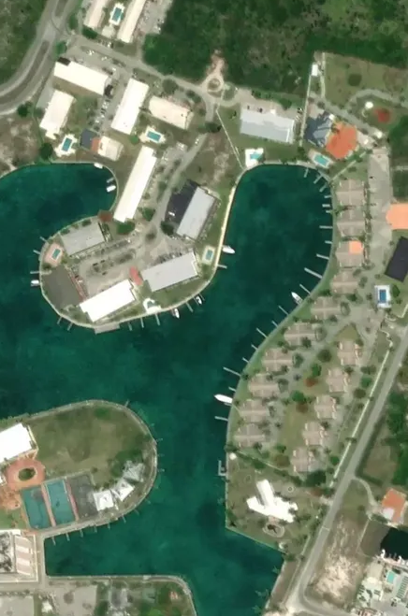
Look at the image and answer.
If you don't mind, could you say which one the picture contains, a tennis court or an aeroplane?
tennis court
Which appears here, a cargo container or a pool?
pool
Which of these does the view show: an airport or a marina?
marina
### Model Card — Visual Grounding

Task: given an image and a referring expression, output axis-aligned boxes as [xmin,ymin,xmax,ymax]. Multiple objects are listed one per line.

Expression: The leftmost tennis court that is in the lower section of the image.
[22,486,50,528]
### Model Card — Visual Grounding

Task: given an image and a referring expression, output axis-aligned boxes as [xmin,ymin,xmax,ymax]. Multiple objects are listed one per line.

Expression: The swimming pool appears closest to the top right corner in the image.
[309,150,336,169]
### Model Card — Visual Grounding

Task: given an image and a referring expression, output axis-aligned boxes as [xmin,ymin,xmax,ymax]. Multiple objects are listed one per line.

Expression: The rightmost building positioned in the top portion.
[386,203,408,229]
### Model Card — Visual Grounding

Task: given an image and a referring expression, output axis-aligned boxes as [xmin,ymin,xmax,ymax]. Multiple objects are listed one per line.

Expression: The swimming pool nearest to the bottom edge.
[384,569,399,586]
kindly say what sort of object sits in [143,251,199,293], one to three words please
building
